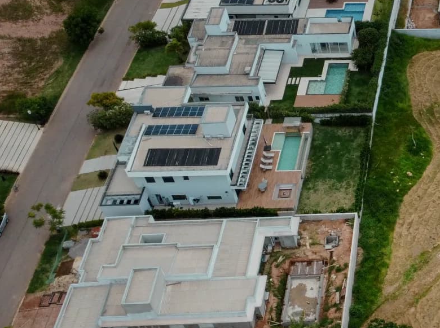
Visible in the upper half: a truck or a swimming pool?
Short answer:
swimming pool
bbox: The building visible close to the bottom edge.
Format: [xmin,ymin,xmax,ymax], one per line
[56,216,304,328]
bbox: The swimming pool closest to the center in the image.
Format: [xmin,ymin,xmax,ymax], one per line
[272,133,310,171]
